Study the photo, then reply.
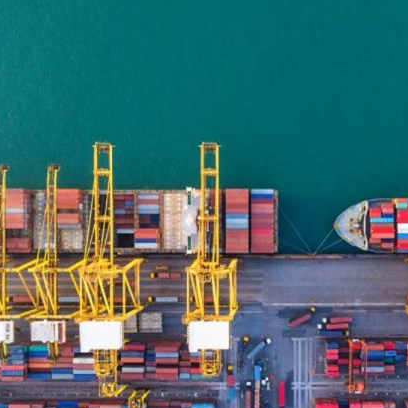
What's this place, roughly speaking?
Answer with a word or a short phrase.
port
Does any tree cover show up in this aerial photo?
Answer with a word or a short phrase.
No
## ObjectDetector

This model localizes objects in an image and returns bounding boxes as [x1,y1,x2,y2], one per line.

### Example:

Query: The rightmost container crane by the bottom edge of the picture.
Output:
[341,334,368,397]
